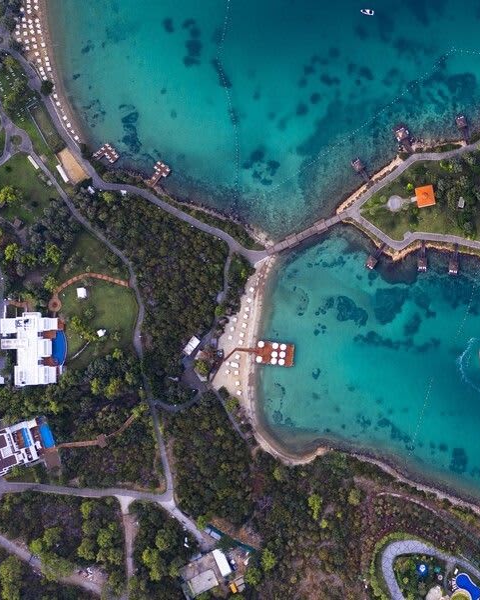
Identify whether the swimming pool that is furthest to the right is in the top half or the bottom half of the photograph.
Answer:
bottom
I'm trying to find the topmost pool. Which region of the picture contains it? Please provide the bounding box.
[52,329,66,364]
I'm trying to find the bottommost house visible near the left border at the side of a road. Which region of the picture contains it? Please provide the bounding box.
[0,415,60,471]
